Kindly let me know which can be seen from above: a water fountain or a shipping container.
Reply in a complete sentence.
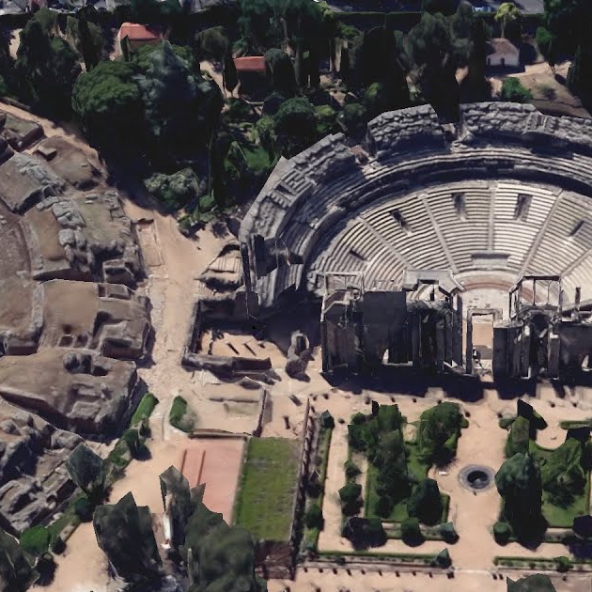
The image shows a water fountain.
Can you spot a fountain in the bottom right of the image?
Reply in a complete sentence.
Yes, in the bottom right of the image there is a fountain.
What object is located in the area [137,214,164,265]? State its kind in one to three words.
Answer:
shed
